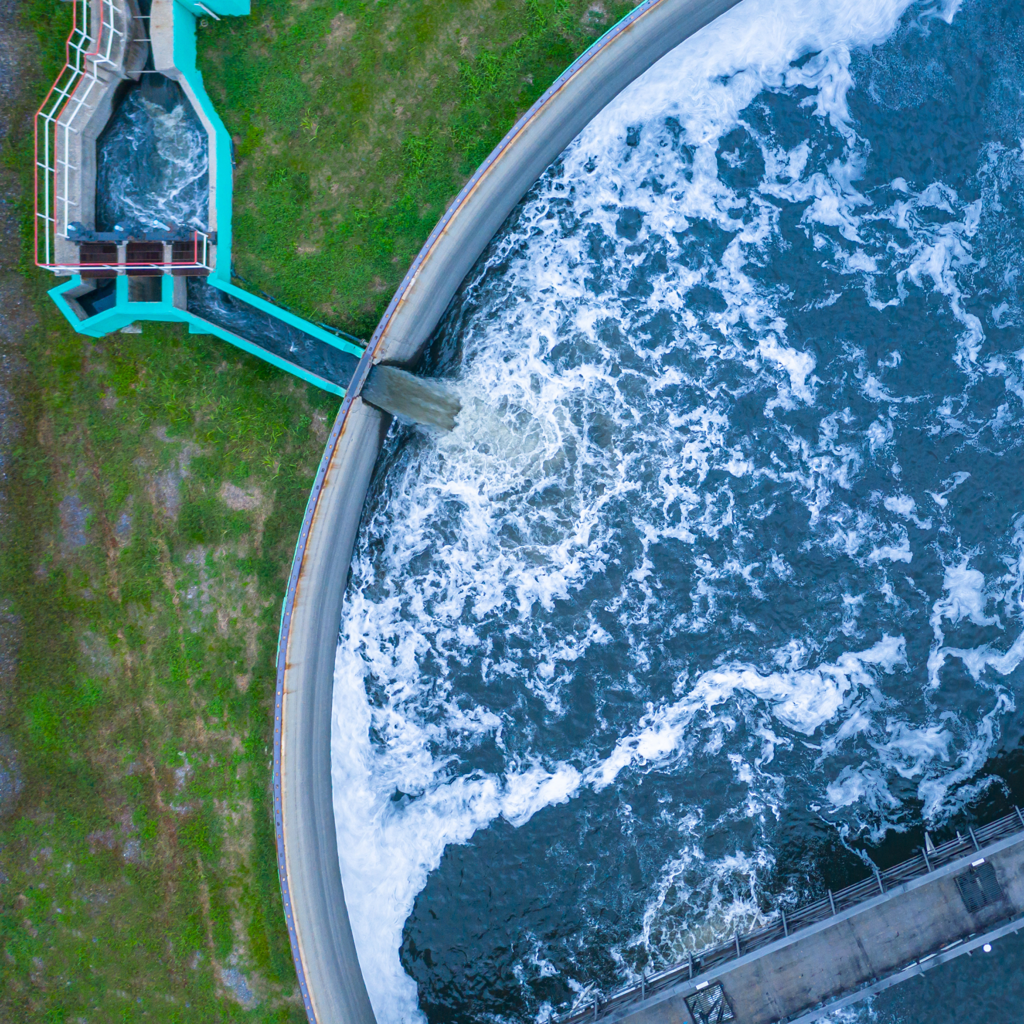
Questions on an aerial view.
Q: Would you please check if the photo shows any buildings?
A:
No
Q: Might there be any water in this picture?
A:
Yes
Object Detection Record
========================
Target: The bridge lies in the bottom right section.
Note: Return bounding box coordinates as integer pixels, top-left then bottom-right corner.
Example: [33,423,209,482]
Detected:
[528,803,1024,1024]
